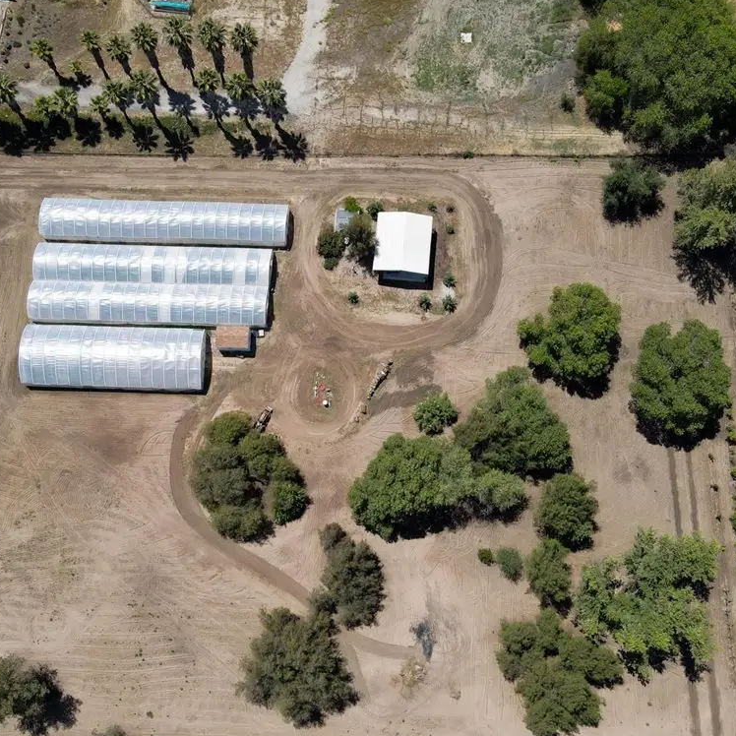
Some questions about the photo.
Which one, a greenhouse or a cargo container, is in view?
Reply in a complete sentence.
Visible in the photo is a greenhouse.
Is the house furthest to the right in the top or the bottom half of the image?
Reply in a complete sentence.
It is in the top half that the house furthest to the right appears.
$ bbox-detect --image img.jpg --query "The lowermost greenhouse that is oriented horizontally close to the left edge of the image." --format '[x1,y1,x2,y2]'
[16,328,208,392]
